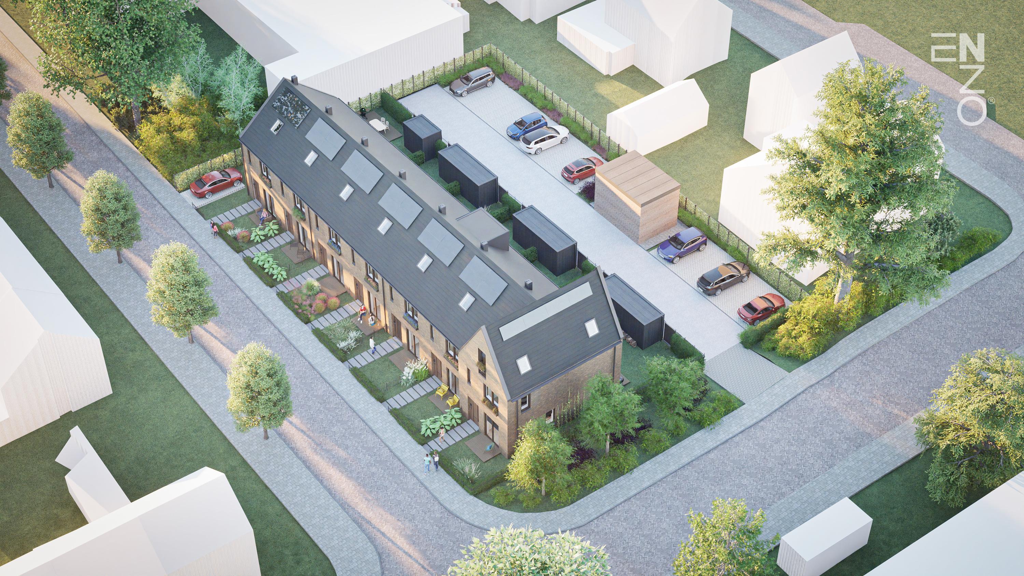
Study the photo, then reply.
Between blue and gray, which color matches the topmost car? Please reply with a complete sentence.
The color of the topmost car is gray.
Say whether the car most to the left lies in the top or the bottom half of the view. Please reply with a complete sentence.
It is in the top half that the car most to the left appears.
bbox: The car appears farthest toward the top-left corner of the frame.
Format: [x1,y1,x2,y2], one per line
[187,166,244,198]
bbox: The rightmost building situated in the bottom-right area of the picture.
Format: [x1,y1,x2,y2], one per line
[864,473,1024,576]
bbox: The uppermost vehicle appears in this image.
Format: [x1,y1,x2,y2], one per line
[448,65,497,98]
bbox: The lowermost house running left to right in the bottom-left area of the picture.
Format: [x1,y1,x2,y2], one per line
[0,467,261,576]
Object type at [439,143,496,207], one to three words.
shed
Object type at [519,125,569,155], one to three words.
car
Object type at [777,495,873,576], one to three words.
building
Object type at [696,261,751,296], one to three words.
car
